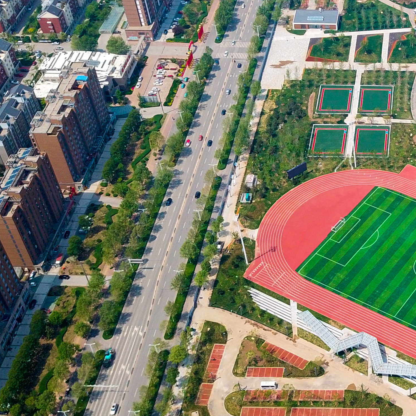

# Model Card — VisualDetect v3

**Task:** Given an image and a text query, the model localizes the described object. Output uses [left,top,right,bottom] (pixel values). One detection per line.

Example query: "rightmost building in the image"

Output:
[293,7,340,30]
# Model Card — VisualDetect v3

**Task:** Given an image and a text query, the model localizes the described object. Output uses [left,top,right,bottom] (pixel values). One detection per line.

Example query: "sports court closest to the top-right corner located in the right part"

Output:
[356,85,395,115]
